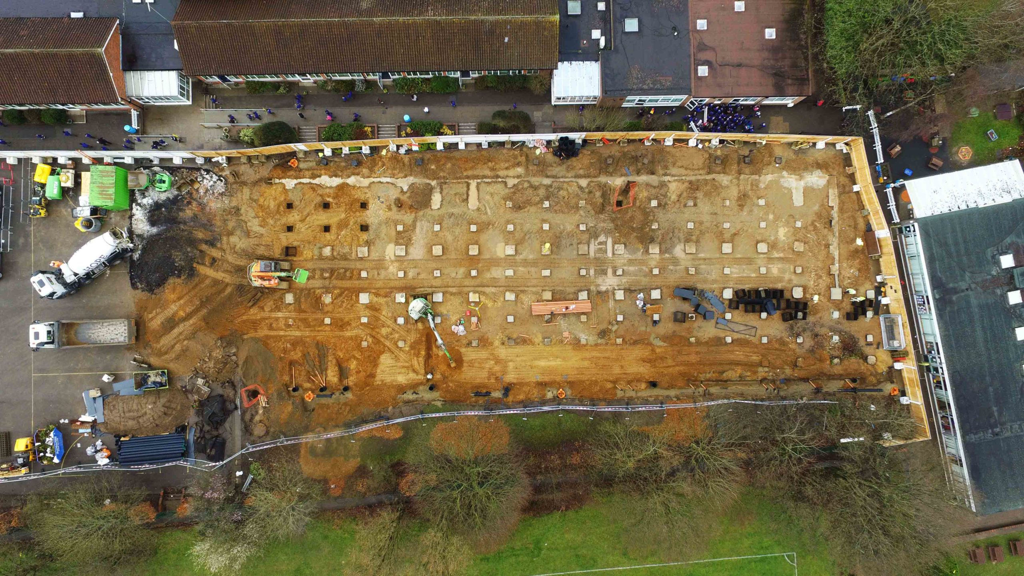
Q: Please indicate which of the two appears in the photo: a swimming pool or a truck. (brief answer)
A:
truck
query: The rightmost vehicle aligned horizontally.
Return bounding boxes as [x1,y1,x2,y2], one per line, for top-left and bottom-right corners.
[243,261,310,288]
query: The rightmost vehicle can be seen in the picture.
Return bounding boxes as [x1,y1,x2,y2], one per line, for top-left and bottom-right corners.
[411,290,456,368]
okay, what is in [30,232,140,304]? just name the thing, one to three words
truck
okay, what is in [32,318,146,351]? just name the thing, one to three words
truck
